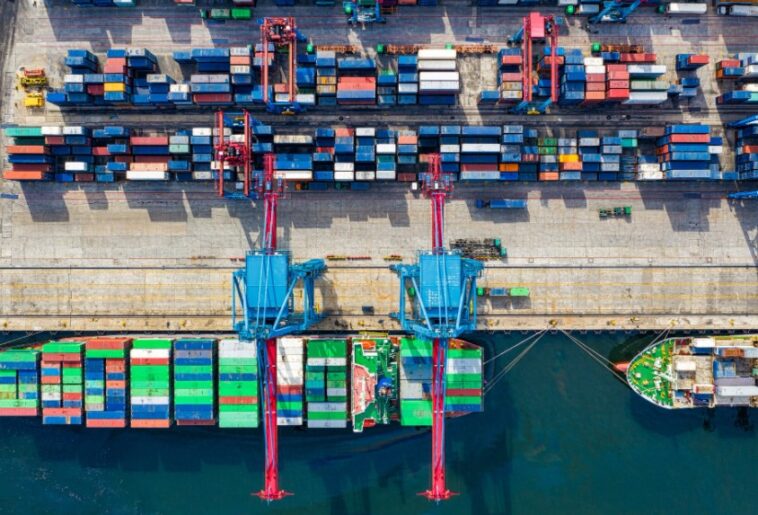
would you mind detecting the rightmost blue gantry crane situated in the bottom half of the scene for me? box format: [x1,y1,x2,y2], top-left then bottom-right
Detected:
[387,154,488,502]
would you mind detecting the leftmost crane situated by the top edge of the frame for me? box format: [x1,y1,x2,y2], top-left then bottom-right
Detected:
[261,18,309,118]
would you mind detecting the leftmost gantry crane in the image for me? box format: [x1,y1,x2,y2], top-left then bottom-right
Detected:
[217,113,268,204]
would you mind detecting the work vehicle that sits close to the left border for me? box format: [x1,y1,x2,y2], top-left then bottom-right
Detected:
[16,77,44,106]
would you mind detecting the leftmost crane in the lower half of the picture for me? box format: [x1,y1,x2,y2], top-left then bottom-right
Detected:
[227,154,332,502]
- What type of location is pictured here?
port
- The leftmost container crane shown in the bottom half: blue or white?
blue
